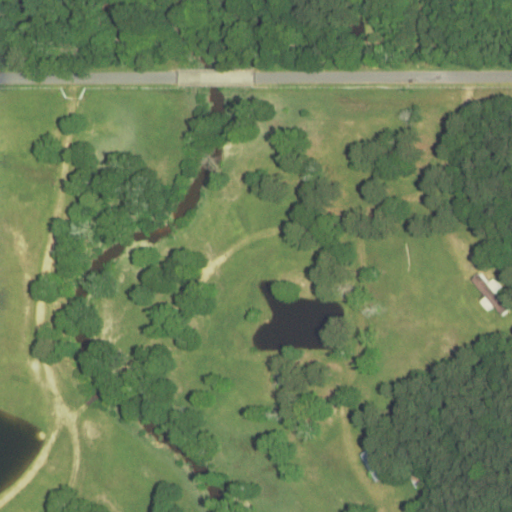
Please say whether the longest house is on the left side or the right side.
right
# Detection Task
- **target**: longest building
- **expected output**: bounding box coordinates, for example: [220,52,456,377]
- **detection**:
[472,272,509,316]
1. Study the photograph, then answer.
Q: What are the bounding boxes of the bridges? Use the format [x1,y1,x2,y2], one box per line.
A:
[176,70,255,86]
